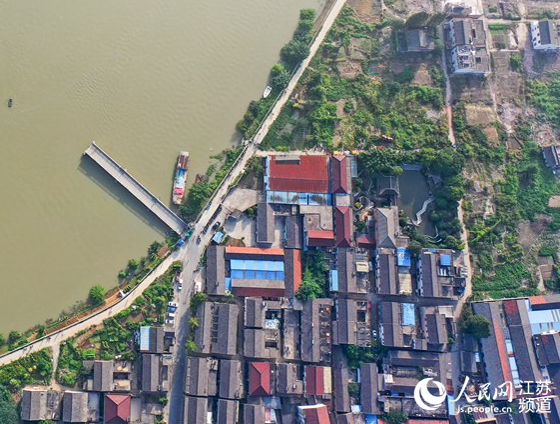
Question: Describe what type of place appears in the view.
residential area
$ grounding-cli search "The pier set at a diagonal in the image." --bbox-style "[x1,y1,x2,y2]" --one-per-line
[84,141,188,237]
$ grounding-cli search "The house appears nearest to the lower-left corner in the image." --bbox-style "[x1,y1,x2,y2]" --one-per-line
[21,389,42,421]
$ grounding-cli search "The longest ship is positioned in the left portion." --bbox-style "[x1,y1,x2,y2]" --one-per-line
[173,150,196,204]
